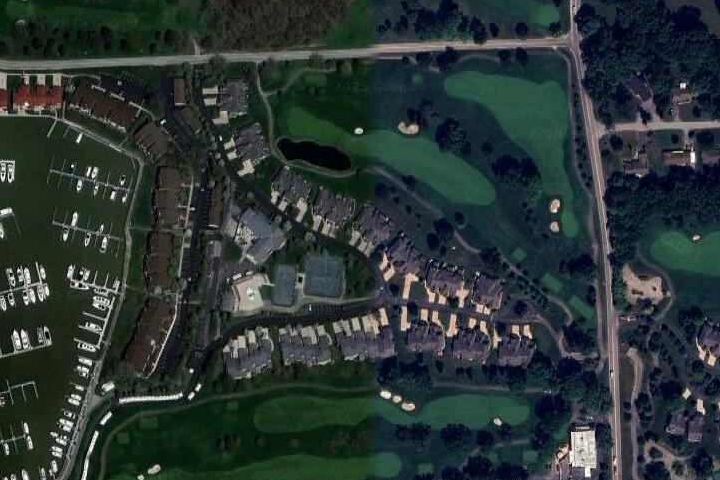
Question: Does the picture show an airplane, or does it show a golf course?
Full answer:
There is a golf course in the scene.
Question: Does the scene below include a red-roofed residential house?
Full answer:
Yes, looking at the shot, I can spot a red-roofed residential house.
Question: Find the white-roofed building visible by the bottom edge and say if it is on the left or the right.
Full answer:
The white-roofed building visible by the bottom edge appears in the right half of the scene.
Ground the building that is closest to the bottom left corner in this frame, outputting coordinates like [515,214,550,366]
[133,296,179,376]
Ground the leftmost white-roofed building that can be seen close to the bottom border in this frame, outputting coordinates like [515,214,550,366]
[556,425,597,477]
